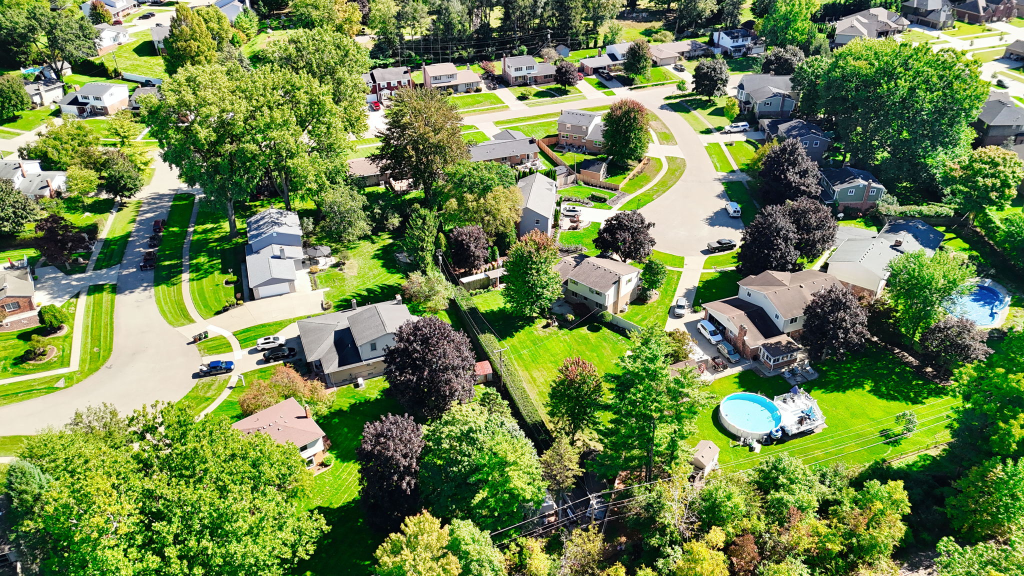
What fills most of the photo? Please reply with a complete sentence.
Most of the picture is covered by trees.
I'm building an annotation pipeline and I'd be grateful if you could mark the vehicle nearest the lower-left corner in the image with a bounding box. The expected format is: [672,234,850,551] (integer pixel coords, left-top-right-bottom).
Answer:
[196,359,236,378]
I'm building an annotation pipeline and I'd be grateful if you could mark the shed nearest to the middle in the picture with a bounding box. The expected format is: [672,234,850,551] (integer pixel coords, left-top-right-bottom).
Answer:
[454,265,507,293]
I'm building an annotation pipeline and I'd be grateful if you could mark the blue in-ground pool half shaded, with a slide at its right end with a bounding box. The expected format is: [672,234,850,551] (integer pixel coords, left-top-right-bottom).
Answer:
[948,283,1014,329]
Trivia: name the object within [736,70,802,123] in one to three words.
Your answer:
house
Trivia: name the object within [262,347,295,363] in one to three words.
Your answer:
car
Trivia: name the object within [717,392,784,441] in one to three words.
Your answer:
swimming pool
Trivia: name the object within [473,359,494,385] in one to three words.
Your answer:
shed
